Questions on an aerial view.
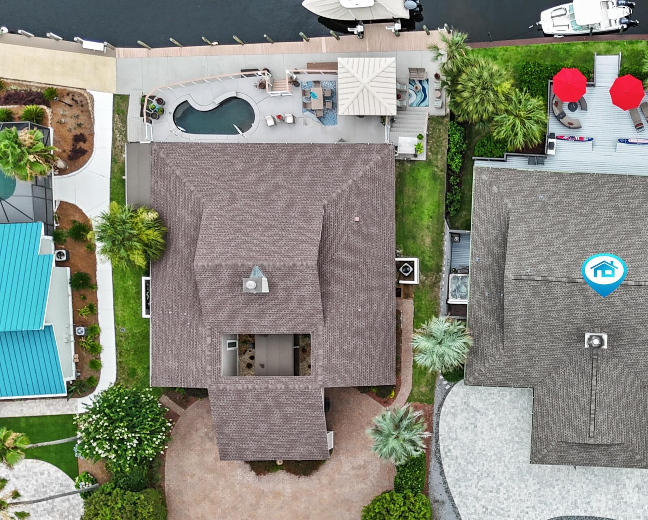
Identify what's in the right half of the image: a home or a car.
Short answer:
home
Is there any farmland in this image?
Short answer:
No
